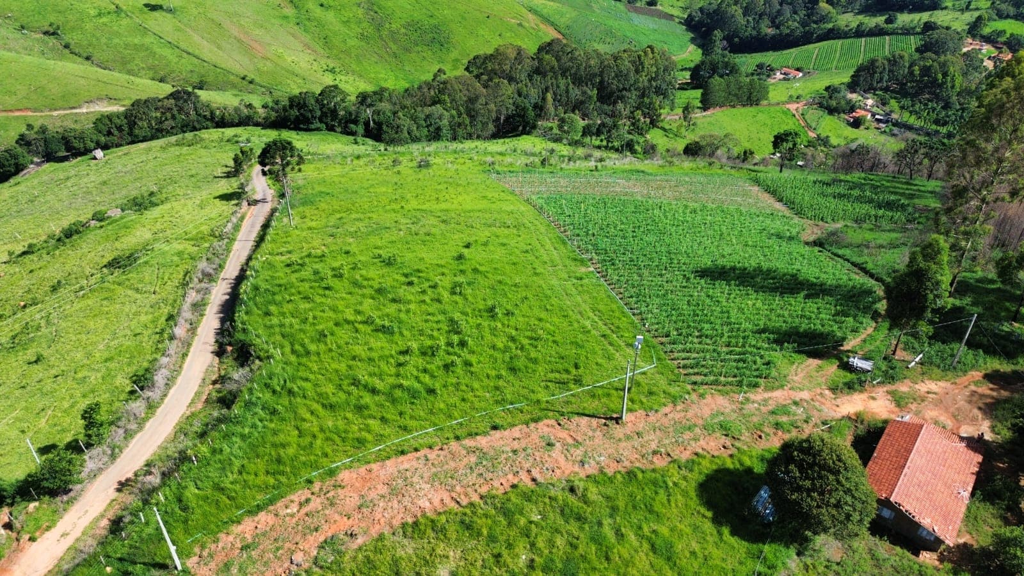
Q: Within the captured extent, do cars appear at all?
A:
No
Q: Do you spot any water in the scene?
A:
No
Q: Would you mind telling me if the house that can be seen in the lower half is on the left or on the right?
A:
right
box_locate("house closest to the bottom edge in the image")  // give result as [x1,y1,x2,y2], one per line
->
[864,417,991,562]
